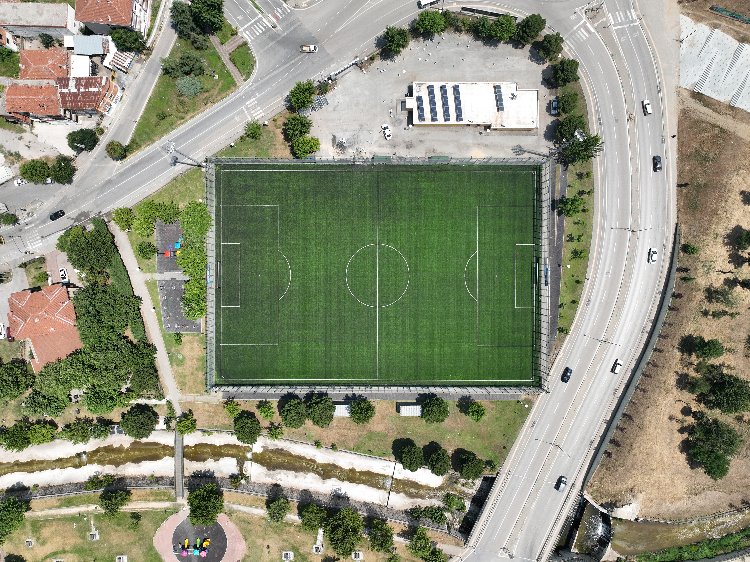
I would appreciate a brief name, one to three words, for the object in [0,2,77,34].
building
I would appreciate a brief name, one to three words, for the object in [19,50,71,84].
house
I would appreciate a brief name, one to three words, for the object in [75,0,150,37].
house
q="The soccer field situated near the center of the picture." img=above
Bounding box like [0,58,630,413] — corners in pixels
[215,165,542,387]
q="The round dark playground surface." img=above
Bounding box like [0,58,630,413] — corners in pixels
[173,517,226,562]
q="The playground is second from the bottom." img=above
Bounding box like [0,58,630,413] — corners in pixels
[158,281,202,333]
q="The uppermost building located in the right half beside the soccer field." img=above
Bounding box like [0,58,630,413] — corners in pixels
[412,81,539,132]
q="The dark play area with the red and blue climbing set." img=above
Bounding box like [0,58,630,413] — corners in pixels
[156,212,194,272]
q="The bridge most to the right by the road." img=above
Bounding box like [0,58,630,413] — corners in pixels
[466,448,589,562]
